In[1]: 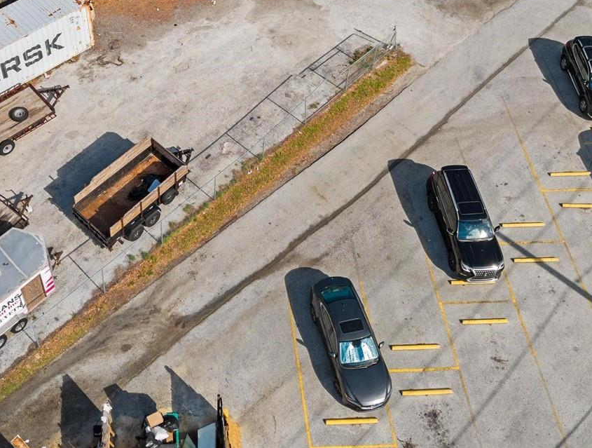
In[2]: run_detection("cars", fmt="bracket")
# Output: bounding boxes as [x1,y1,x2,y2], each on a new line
[427,164,507,286]
[309,274,395,415]
[558,33,592,120]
